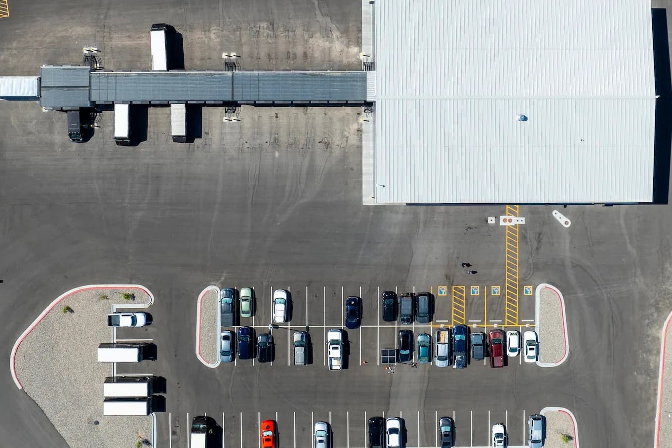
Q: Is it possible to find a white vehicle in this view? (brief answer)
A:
Yes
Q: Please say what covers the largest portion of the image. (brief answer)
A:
paved ground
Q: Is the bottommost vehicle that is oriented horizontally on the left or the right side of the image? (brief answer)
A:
left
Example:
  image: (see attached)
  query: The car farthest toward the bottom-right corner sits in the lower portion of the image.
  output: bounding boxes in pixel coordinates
[527,415,544,448]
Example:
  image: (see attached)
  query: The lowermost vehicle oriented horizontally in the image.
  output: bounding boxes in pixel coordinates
[103,395,158,417]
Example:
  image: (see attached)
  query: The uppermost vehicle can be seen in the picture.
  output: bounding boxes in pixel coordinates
[150,23,169,68]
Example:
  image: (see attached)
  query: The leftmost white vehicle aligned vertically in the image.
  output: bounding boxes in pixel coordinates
[115,105,133,145]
